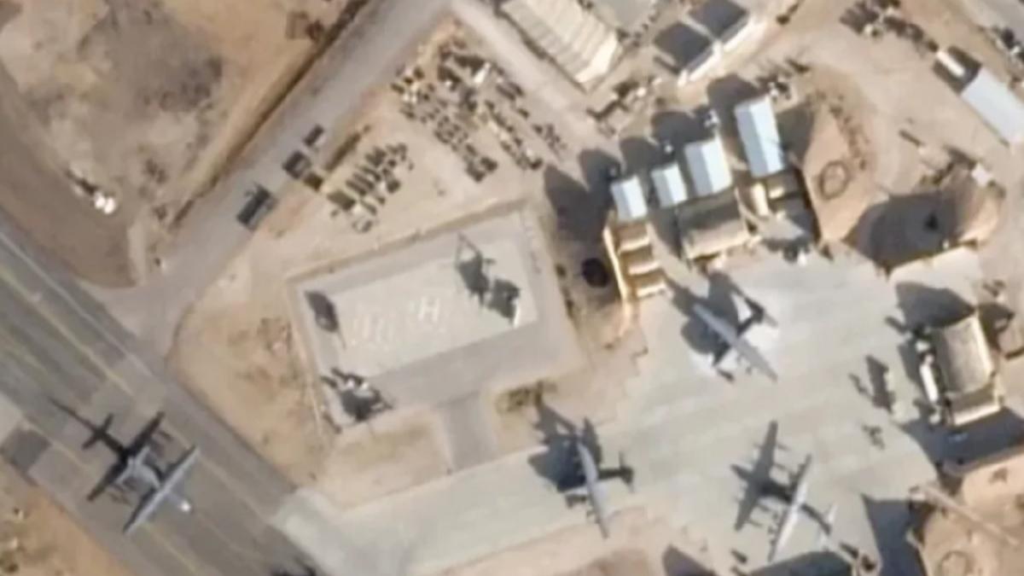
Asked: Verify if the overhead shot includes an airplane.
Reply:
Yes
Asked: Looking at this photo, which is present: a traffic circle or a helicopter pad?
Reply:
helicopter pad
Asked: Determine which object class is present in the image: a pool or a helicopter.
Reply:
helicopter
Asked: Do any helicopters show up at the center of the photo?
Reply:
Yes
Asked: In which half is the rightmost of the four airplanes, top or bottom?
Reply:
bottom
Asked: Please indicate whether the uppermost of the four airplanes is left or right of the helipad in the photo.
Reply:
to the right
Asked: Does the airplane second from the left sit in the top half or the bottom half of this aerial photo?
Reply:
bottom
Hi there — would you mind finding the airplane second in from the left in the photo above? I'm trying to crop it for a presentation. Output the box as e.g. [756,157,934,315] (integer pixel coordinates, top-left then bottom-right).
[562,432,643,541]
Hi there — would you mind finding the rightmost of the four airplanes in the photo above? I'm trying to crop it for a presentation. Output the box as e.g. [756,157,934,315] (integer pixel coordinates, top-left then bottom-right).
[759,456,840,562]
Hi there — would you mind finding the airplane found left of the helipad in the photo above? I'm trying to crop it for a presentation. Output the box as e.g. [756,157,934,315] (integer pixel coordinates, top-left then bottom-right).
[113,445,199,533]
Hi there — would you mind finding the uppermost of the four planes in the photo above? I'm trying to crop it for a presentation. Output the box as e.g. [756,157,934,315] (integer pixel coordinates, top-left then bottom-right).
[692,295,781,381]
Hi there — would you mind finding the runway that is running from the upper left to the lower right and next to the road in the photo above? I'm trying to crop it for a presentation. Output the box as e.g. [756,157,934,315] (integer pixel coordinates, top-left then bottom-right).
[0,216,363,576]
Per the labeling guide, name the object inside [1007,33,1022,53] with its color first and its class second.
gray vehicle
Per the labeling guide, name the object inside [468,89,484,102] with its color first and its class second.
gray vehicle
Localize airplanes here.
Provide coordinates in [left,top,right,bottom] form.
[113,445,199,533]
[692,295,781,381]
[759,456,840,562]
[562,432,643,541]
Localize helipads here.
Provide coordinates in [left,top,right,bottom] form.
[295,212,583,473]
